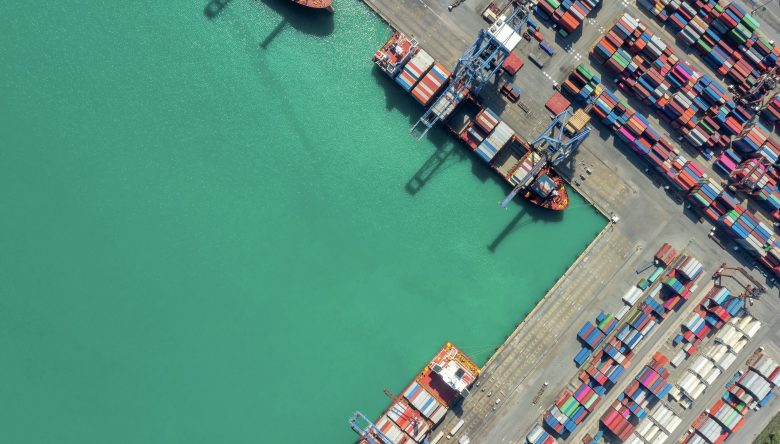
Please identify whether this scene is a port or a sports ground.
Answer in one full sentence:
This image shows a port.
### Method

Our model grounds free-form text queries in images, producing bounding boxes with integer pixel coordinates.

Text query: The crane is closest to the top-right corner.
[730,71,779,113]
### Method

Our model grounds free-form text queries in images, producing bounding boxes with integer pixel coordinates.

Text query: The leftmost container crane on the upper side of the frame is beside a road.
[408,2,535,143]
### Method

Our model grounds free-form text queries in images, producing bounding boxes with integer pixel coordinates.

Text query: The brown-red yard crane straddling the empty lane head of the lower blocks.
[714,264,766,301]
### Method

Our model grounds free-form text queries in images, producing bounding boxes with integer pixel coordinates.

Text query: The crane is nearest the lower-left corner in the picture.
[348,409,399,444]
